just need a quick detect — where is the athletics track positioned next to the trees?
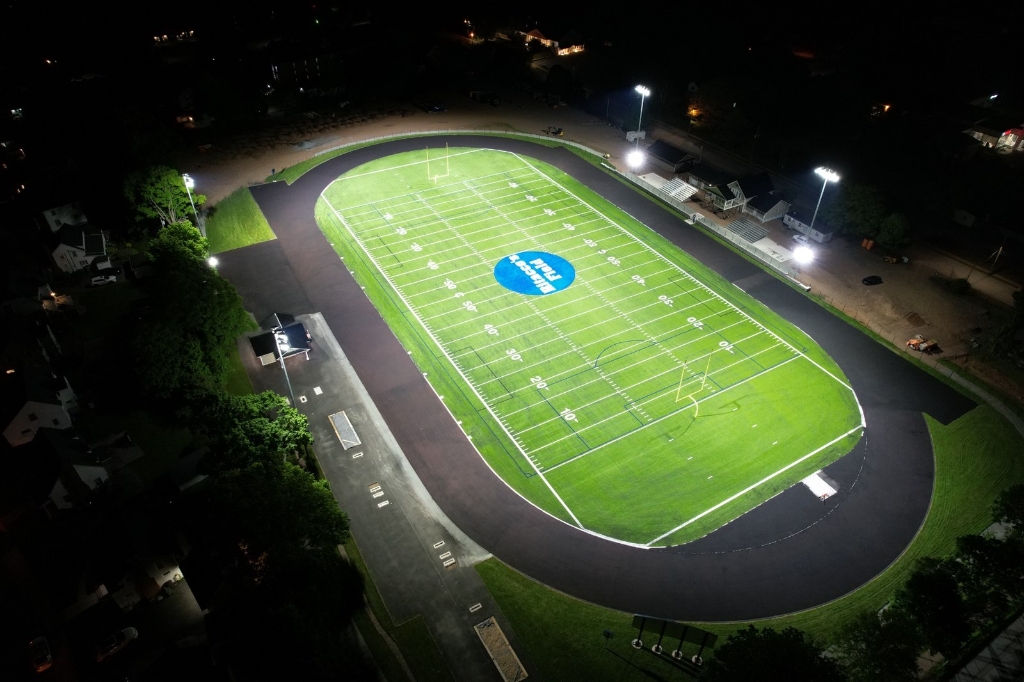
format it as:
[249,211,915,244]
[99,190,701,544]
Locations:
[249,136,981,620]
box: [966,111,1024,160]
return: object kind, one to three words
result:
building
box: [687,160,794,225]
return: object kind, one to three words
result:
building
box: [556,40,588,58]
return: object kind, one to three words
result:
house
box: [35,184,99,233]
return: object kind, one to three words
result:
house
